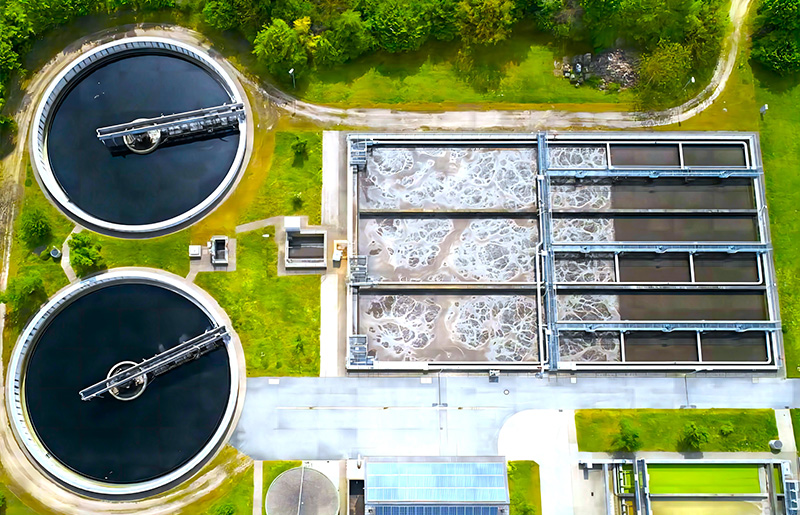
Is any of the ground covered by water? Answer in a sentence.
Yes, there is water in the image.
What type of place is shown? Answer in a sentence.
It's an industrial area.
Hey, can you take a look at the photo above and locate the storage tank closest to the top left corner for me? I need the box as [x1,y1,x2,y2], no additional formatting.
[31,37,248,234]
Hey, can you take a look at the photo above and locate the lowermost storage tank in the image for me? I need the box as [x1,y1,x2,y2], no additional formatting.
[265,466,341,515]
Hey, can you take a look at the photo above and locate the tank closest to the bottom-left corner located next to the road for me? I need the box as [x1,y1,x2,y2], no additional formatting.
[7,270,240,496]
